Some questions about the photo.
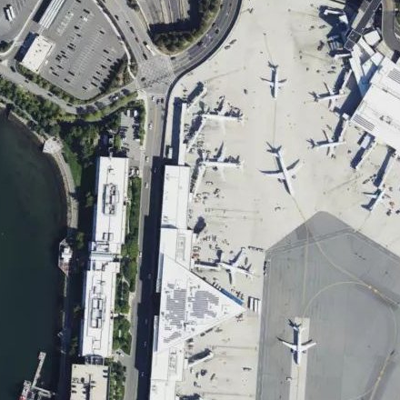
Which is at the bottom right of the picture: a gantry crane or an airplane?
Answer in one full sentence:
Looking at the bottom right of the picture, you will find an airplane.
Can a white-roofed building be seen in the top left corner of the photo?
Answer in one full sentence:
Yes, there is a white-roofed building in the top left corner of the photo.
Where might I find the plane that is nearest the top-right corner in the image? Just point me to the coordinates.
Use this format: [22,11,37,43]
[309,82,348,113]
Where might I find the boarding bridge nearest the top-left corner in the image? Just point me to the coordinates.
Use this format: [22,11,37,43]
[186,85,208,110]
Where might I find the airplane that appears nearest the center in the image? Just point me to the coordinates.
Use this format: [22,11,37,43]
[201,144,247,183]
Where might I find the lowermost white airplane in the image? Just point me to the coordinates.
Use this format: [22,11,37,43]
[282,319,317,366]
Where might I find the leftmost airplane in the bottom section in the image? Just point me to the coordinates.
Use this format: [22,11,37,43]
[217,253,258,289]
